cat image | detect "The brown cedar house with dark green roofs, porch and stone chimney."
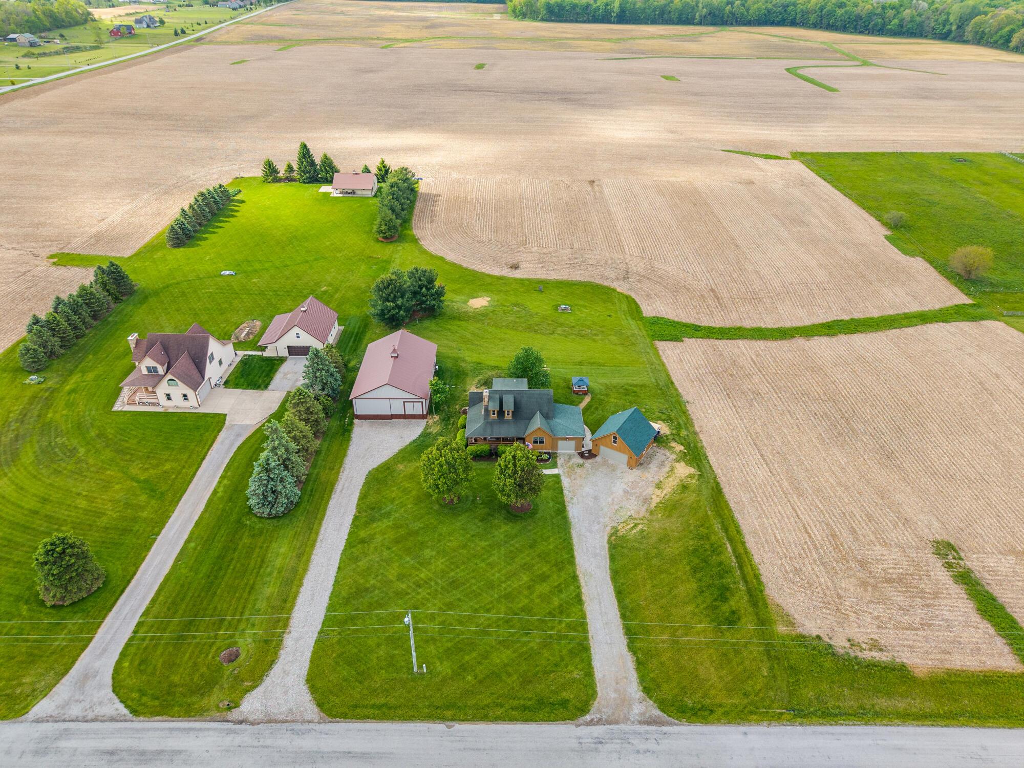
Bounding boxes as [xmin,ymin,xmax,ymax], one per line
[465,378,587,453]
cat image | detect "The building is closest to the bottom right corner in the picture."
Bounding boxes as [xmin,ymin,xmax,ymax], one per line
[589,407,658,468]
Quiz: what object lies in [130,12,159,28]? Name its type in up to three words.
house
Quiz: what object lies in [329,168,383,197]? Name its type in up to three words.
building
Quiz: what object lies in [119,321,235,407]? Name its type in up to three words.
house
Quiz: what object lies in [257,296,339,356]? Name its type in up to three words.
building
